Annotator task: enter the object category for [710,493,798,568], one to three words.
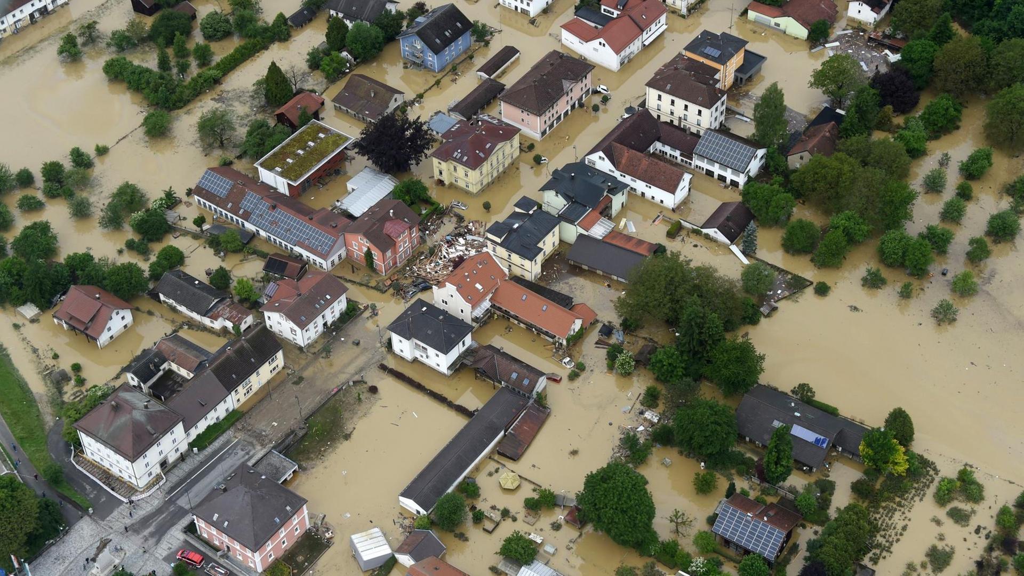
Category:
house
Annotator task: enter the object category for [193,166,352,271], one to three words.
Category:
building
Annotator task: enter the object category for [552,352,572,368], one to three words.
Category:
vehicle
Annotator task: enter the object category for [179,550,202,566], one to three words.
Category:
vehicle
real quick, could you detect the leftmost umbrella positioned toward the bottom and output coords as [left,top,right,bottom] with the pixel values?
[499,470,519,485]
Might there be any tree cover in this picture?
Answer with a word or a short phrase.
Yes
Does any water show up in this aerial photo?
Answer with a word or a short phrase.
Yes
